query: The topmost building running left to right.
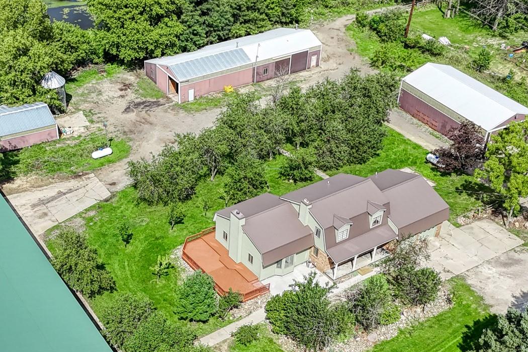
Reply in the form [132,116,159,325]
[143,25,324,104]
